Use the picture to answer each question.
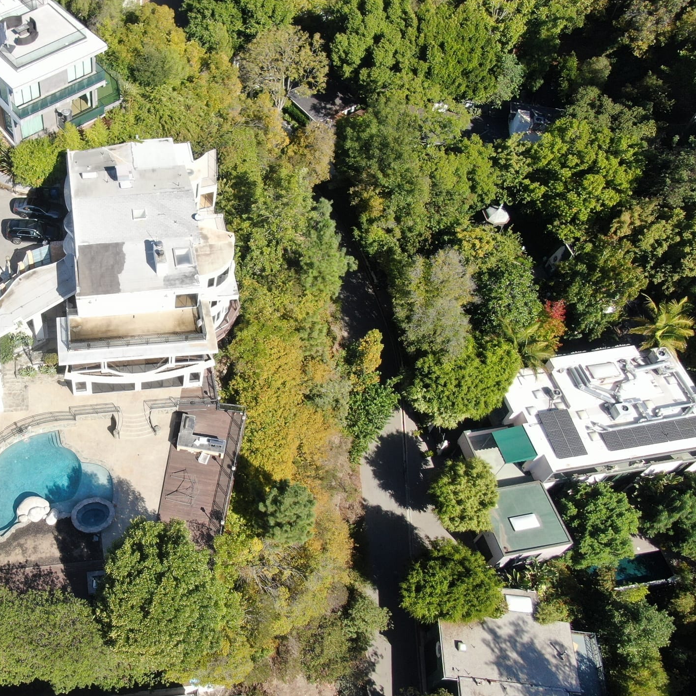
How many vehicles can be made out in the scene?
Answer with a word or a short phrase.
two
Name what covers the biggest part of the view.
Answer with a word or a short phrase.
trees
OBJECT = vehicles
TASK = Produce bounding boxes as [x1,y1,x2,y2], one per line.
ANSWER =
[8,199,67,225]
[3,219,63,249]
